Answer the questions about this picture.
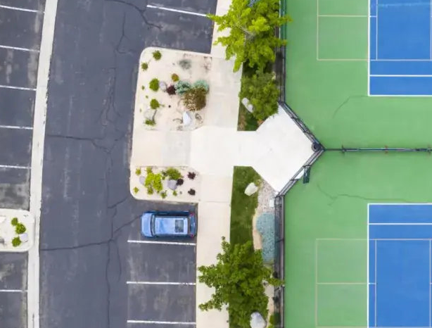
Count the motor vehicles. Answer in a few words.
1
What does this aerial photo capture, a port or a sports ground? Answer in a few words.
sports ground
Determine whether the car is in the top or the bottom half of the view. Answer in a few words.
bottom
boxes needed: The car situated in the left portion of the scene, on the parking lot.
[142,208,200,240]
